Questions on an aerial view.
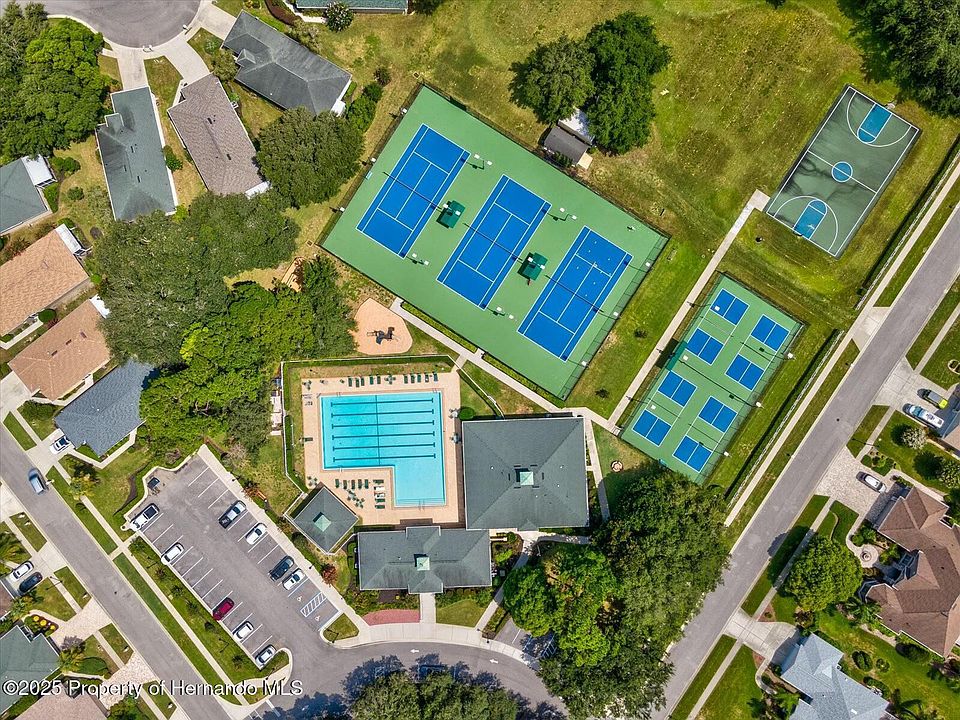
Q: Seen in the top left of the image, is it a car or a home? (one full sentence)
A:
There is a home in the top left of the image.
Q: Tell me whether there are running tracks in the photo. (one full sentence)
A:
No, the frame has no running track in it.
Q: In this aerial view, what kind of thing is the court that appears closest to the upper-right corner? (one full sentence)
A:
It looks like the court that appears closest to the upper-right corner is a basketball court.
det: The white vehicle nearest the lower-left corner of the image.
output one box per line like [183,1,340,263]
[11,559,36,580]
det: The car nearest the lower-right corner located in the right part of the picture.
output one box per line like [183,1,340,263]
[860,472,885,491]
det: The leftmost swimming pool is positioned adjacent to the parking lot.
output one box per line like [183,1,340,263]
[318,388,448,509]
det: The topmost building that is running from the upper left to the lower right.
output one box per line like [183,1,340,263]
[222,9,352,121]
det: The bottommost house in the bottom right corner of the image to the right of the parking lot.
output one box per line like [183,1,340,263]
[774,632,888,720]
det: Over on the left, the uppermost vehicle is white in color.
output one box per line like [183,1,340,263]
[50,435,71,454]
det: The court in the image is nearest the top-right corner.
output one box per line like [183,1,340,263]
[760,81,925,262]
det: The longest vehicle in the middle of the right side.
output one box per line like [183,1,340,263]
[905,405,944,428]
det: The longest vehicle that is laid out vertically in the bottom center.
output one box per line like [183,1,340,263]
[425,655,437,681]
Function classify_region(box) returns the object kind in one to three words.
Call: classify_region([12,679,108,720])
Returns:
house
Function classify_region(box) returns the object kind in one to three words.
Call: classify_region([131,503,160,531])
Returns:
truck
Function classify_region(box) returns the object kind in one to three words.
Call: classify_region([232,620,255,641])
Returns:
car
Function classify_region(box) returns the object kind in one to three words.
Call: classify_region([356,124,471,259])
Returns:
tennis court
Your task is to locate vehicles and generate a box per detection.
[255,645,277,667]
[905,405,944,428]
[21,571,45,592]
[213,597,234,620]
[219,502,247,528]
[50,435,71,454]
[232,620,255,641]
[860,472,885,491]
[162,542,186,563]
[268,555,294,581]
[920,390,944,408]
[425,655,437,681]
[131,503,160,531]
[27,469,49,495]
[282,568,306,591]
[11,559,36,580]
[245,523,268,545]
